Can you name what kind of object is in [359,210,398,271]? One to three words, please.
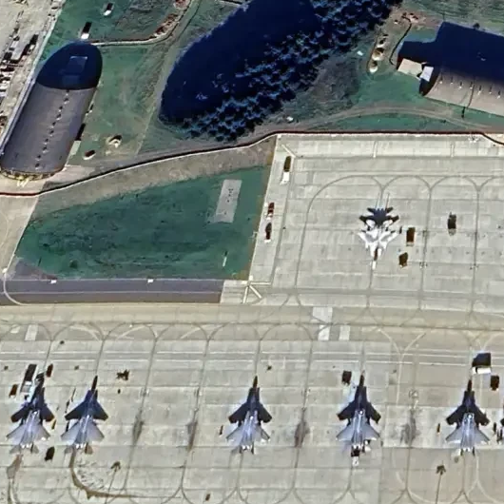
airplane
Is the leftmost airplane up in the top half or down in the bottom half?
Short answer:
bottom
